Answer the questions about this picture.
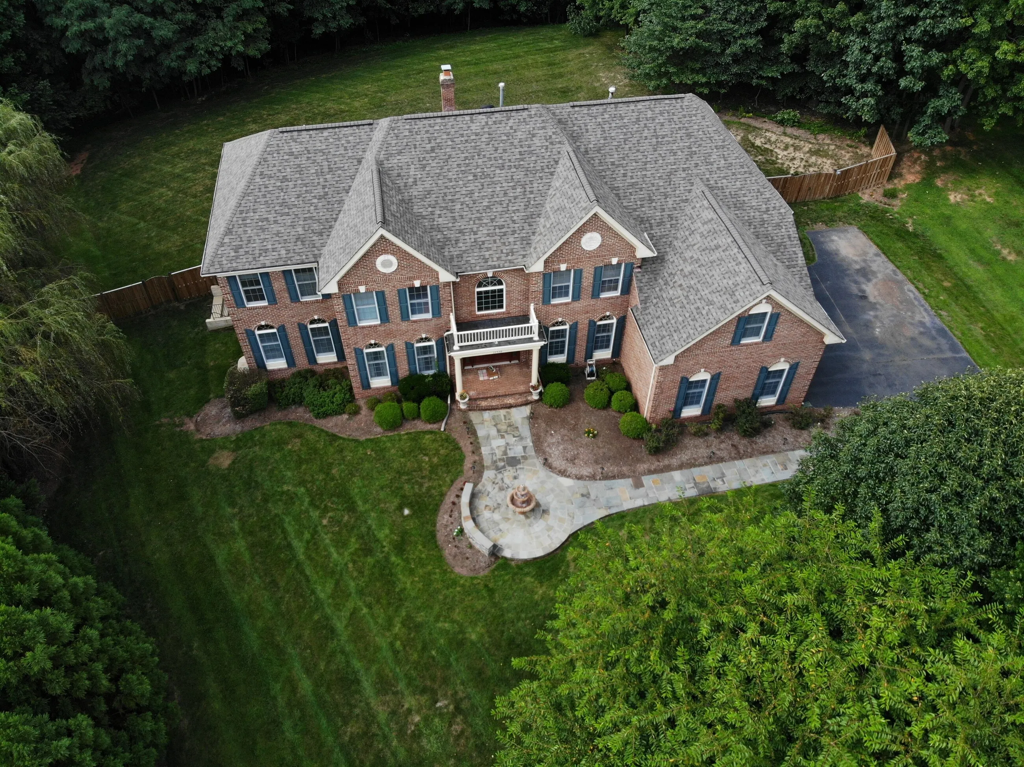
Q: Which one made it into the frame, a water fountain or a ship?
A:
water fountain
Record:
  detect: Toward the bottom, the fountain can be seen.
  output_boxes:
[507,485,537,516]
